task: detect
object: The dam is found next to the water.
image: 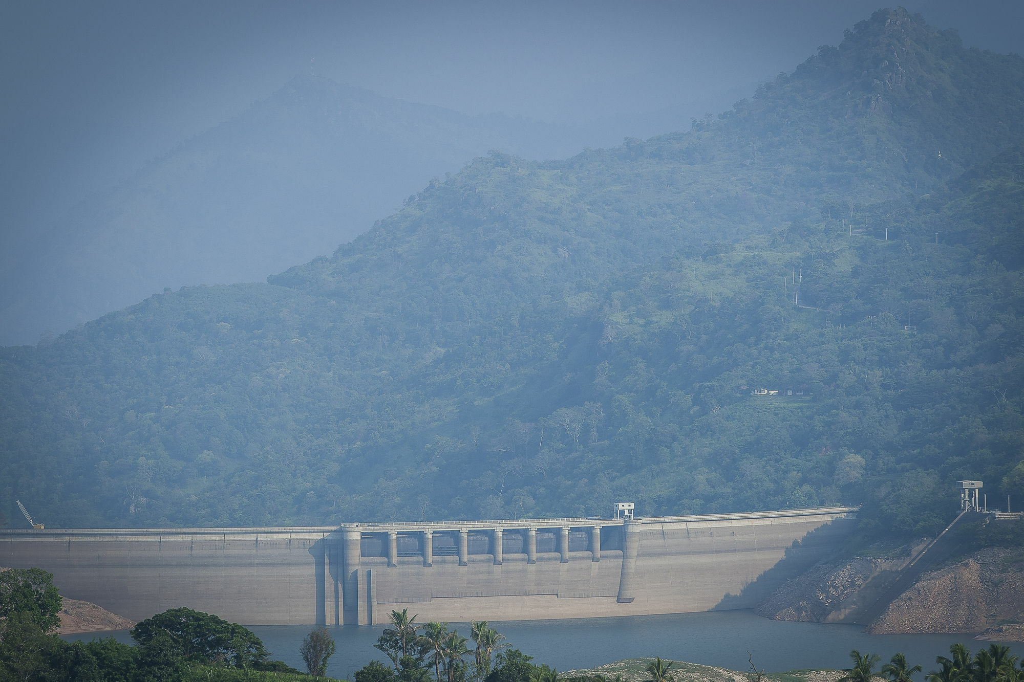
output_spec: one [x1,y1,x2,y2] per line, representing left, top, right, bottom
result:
[0,502,872,627]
